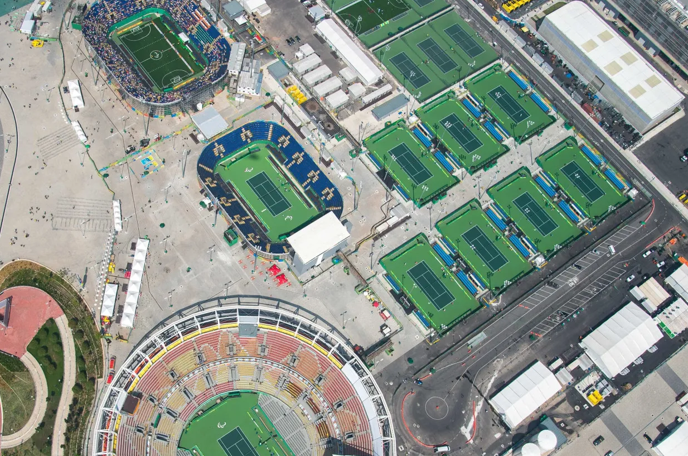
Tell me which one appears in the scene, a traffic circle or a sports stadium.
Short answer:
sports stadium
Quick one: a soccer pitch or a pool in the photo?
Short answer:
soccer pitch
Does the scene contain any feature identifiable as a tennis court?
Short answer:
Yes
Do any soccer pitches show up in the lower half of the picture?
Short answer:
No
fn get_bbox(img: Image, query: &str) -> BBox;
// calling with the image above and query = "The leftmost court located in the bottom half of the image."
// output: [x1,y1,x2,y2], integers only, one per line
[381,234,484,337]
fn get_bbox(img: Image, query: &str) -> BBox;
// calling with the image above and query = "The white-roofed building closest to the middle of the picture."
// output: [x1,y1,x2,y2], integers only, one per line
[284,212,350,274]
